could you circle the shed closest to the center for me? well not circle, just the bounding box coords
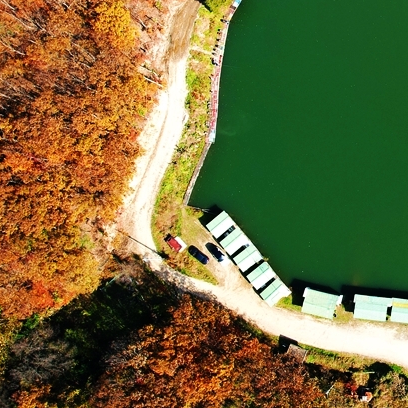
[207,211,238,238]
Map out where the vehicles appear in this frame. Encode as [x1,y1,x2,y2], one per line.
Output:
[165,234,183,253]
[202,239,227,265]
[185,243,212,268]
